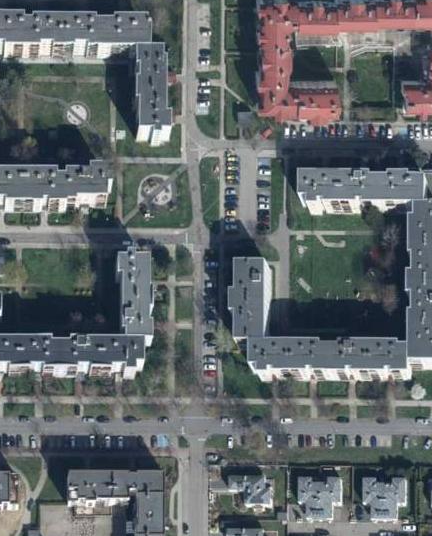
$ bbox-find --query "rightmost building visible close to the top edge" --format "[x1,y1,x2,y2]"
[255,0,432,131]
